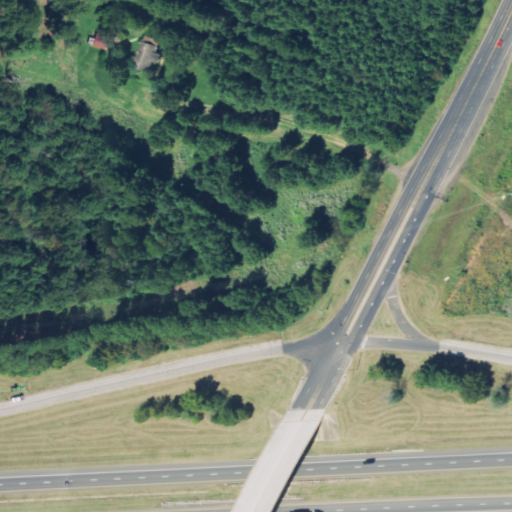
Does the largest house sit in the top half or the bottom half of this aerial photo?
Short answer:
top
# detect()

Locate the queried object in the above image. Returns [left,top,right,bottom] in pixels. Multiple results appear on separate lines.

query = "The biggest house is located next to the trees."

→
[131,40,162,74]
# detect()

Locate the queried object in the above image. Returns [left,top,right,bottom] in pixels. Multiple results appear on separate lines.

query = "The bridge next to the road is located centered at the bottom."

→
[229,408,326,512]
